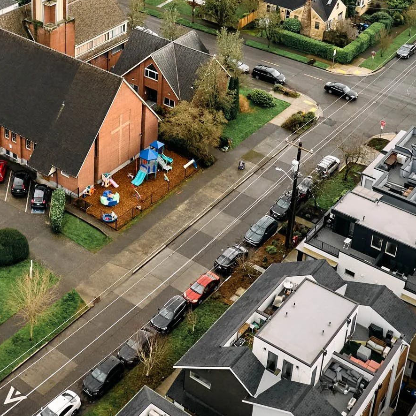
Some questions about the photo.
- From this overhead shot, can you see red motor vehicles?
Yes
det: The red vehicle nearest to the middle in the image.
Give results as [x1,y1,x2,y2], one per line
[185,269,222,305]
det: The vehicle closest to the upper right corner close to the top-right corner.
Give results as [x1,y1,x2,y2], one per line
[395,42,416,58]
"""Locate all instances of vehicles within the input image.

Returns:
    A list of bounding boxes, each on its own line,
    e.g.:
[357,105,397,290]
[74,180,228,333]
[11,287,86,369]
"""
[151,292,193,336]
[243,214,277,249]
[213,245,248,275]
[185,269,222,305]
[395,42,416,58]
[32,181,50,205]
[313,155,343,179]
[324,83,359,101]
[138,24,163,36]
[292,176,320,199]
[269,190,301,222]
[83,352,129,400]
[252,62,287,84]
[230,56,252,72]
[13,167,32,193]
